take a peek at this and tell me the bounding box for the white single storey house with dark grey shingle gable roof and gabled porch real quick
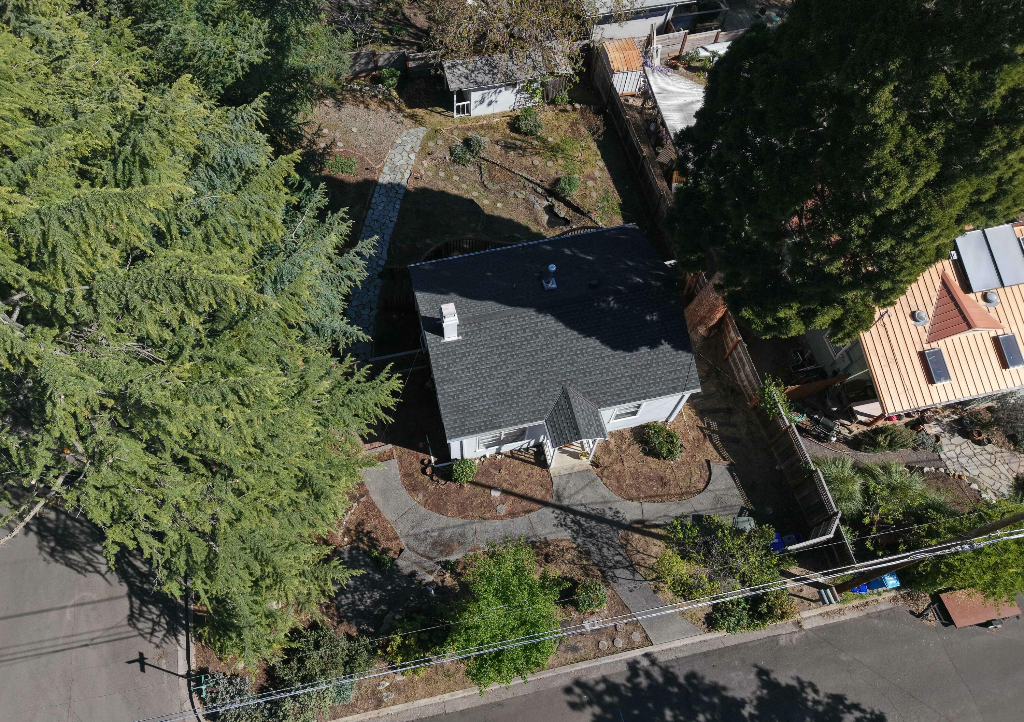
[406,222,700,477]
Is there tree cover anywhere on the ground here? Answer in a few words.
Yes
